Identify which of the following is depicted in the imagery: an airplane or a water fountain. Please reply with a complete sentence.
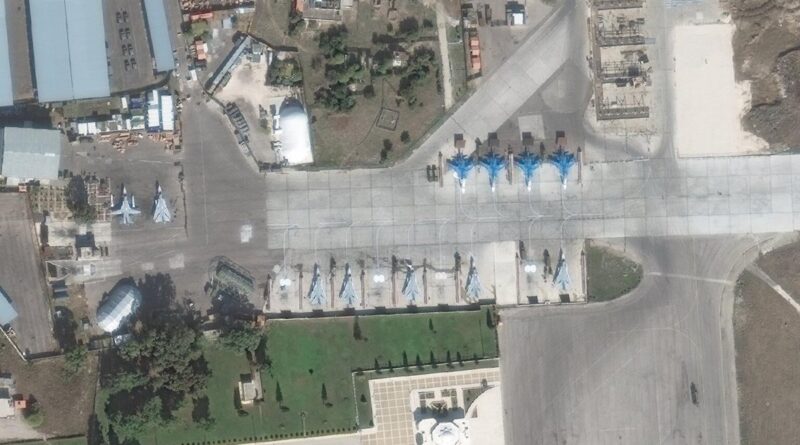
The one in the frame is an airplane.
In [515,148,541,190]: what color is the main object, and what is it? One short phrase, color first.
blue airplane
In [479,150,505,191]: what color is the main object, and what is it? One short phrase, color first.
blue airplane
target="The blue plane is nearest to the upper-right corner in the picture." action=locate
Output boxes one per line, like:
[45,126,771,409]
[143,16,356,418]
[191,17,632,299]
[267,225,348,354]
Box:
[550,147,576,189]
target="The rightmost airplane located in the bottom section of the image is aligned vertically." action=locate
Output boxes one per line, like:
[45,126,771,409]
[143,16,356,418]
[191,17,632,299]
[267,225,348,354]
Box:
[556,253,573,290]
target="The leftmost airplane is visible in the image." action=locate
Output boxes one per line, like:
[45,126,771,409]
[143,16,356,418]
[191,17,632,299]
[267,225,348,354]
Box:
[112,184,140,223]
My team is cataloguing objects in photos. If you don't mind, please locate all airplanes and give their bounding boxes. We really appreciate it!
[448,151,474,193]
[404,264,421,303]
[479,150,505,191]
[155,184,172,223]
[342,265,359,305]
[550,147,576,189]
[556,253,573,290]
[311,264,329,304]
[112,184,140,223]
[468,262,485,301]
[515,148,541,190]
